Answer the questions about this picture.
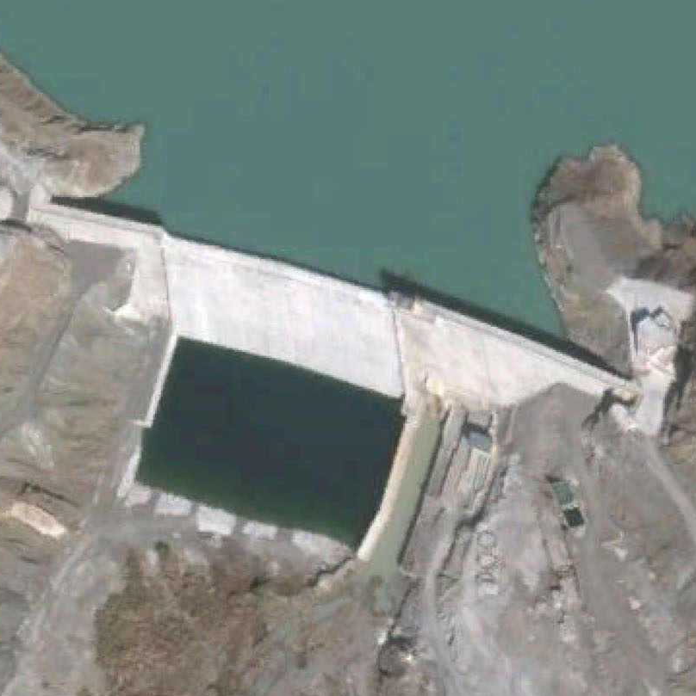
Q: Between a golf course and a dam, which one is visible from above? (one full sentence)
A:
This aerial view contains a dam.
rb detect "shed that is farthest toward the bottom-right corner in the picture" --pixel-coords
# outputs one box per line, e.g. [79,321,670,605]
[564,509,586,536]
